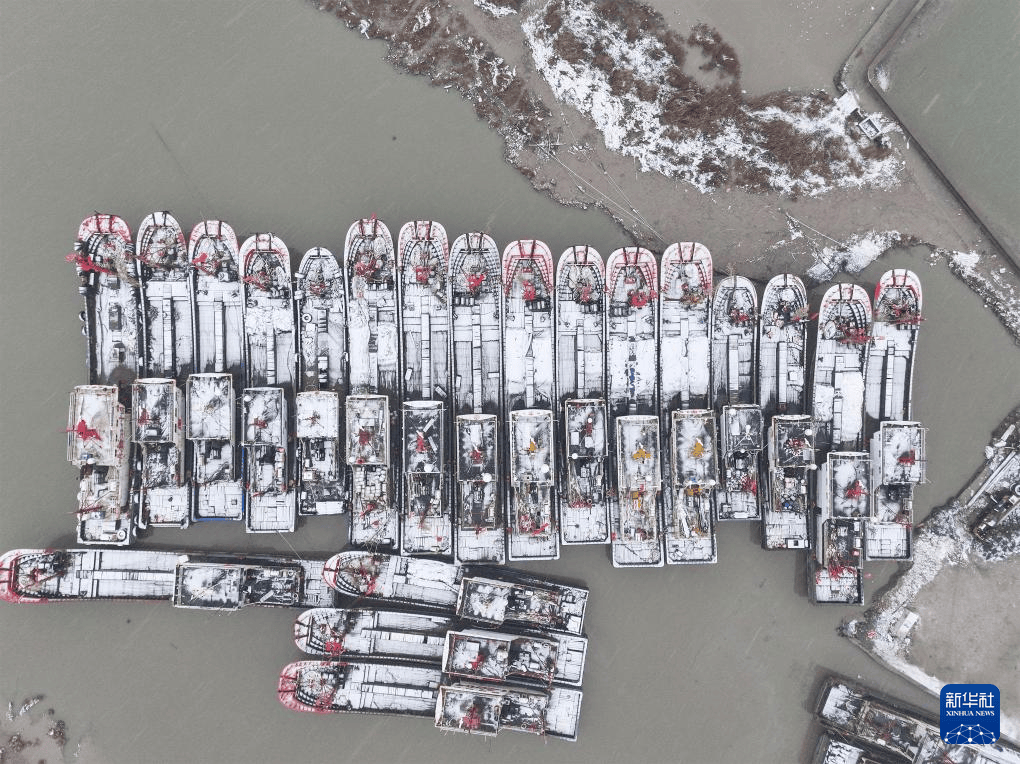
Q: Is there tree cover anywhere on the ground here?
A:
No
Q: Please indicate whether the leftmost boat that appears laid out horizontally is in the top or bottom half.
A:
bottom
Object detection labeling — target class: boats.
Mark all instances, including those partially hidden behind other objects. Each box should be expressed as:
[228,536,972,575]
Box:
[184,219,247,521]
[605,246,663,569]
[556,244,611,545]
[276,658,581,742]
[124,209,197,526]
[292,606,587,688]
[807,283,875,605]
[343,216,400,549]
[58,212,141,543]
[320,552,589,634]
[0,547,341,613]
[502,239,559,562]
[658,241,720,565]
[811,675,1020,764]
[711,273,768,521]
[449,231,505,564]
[235,232,301,531]
[756,272,817,550]
[296,245,349,515]
[396,220,452,556]
[863,267,929,561]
